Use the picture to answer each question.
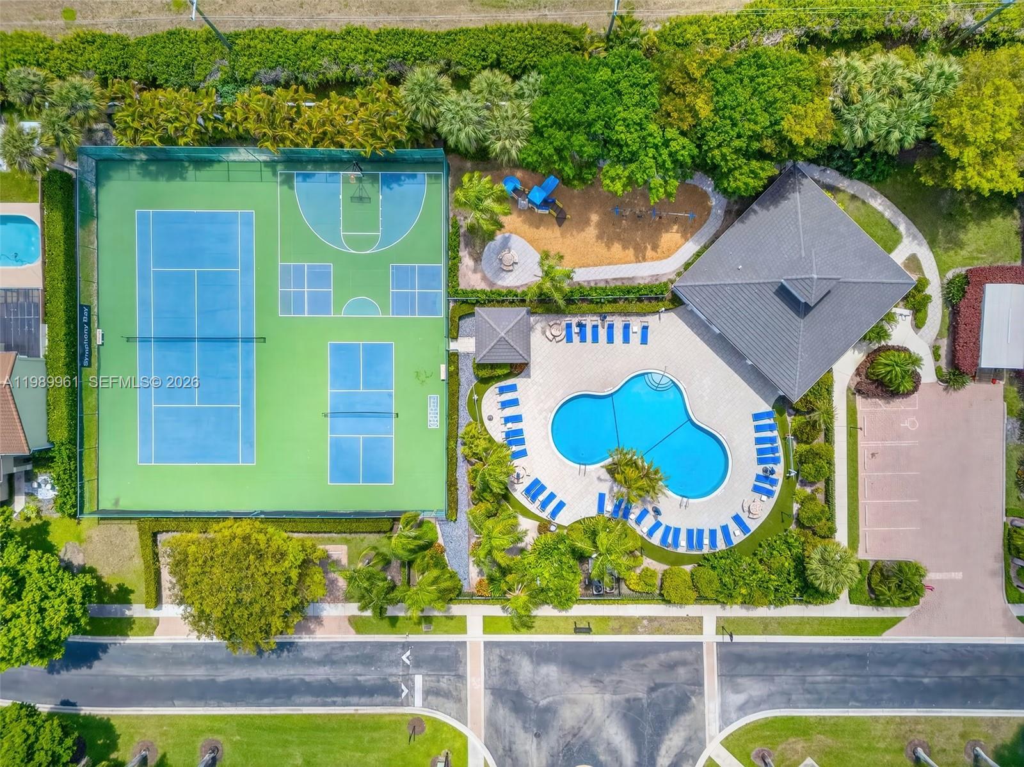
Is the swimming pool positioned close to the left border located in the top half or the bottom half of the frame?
top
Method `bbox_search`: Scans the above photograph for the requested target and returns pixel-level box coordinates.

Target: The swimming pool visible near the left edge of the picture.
[0,212,42,269]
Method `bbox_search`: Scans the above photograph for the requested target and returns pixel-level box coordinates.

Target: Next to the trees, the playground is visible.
[503,171,570,226]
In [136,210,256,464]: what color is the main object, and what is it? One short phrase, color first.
blue tennis court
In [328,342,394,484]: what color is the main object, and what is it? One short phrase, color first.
blue sports court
